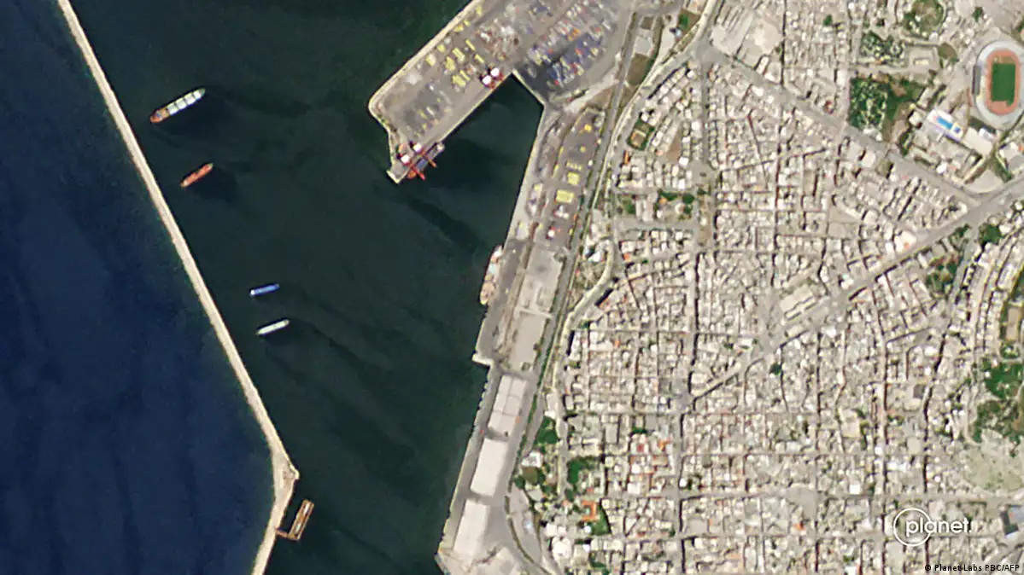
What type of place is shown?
port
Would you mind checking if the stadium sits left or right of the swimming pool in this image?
on its right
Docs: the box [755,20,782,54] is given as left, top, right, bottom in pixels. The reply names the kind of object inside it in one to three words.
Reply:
building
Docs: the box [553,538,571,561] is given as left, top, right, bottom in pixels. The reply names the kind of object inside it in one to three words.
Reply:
house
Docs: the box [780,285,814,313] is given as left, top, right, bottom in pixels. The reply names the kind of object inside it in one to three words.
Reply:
shed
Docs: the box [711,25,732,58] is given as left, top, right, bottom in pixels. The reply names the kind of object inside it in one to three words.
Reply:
building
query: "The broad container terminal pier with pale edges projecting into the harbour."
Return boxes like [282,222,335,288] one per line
[369,0,585,183]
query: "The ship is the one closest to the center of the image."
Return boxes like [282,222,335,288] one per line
[479,245,504,306]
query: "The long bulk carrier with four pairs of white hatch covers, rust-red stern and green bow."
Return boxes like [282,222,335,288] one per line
[148,87,206,121]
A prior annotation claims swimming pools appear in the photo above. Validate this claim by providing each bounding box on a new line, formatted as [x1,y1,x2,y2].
[927,109,964,140]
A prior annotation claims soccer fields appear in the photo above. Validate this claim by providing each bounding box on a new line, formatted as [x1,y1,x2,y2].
[992,64,1015,101]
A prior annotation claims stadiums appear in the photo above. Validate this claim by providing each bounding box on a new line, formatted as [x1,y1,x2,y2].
[973,38,1024,129]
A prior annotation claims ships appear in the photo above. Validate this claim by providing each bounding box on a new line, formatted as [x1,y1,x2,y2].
[479,245,504,306]
[257,320,290,335]
[249,284,279,295]
[148,87,206,121]
[179,163,213,188]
